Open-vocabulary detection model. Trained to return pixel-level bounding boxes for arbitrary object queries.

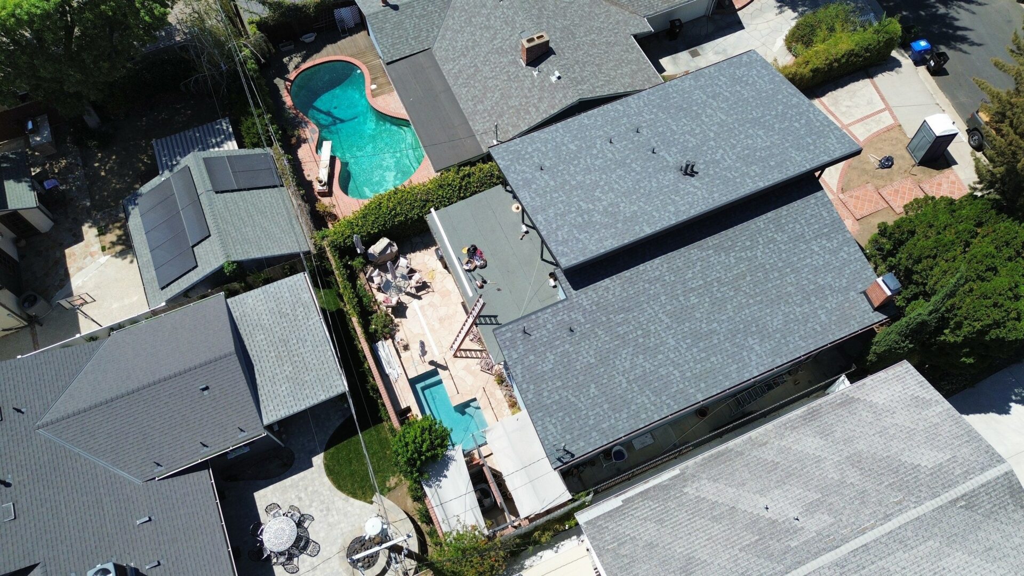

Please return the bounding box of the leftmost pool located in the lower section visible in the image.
[409,369,487,455]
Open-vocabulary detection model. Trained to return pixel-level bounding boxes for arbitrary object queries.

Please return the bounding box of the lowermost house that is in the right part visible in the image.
[574,361,1024,576]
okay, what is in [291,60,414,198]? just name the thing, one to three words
swimming pool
